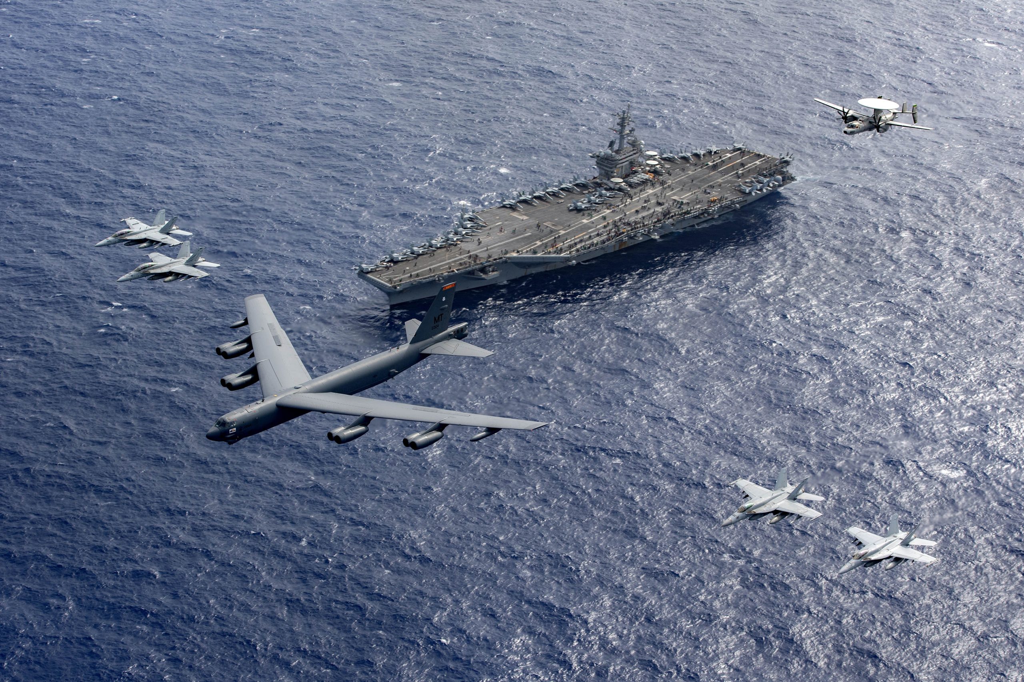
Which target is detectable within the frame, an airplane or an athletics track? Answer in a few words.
airplane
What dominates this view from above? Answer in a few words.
water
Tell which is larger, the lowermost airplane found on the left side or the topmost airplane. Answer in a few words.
the lowermost airplane found on the left side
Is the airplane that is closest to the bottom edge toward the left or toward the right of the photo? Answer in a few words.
right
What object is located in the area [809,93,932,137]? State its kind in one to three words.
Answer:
airplane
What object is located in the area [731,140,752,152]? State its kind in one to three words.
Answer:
airplane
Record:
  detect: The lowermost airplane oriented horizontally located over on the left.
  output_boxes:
[205,281,548,451]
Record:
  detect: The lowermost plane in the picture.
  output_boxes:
[839,513,937,575]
